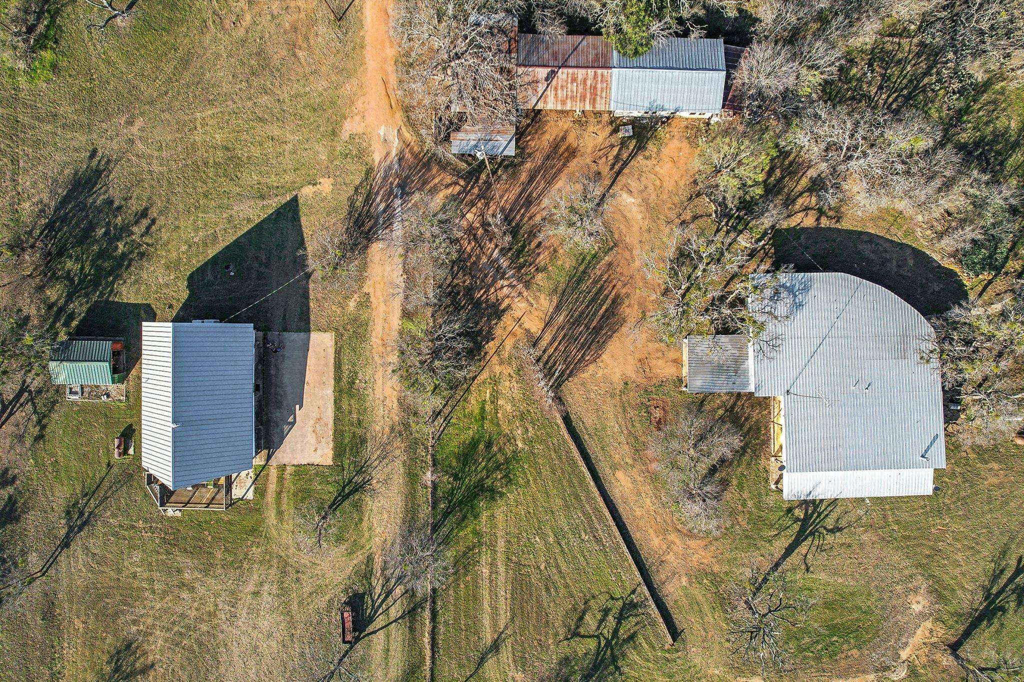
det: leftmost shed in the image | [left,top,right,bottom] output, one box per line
[49,337,135,385]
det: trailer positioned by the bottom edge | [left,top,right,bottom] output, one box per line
[338,602,356,652]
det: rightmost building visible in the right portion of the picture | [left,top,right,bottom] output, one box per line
[745,272,942,500]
